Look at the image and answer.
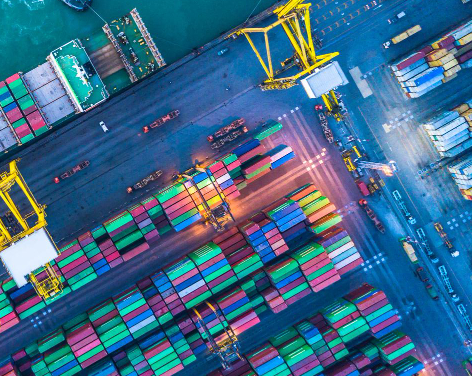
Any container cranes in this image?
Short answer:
Yes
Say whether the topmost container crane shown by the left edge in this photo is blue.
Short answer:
No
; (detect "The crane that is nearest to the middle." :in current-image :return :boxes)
[180,157,243,230]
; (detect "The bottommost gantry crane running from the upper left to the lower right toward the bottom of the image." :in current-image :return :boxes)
[189,296,245,367]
